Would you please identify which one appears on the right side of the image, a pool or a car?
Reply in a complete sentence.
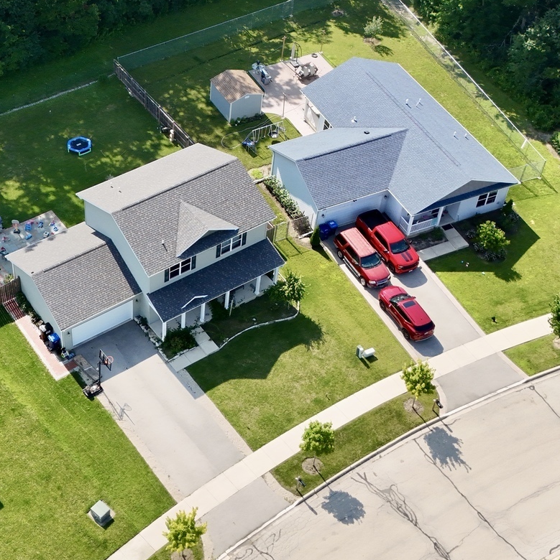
The one visible on the right side of the image is a car.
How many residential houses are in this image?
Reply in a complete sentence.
The number of residential houses here is 2.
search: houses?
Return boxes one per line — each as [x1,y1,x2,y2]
[268,57,521,238]
[6,143,286,350]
